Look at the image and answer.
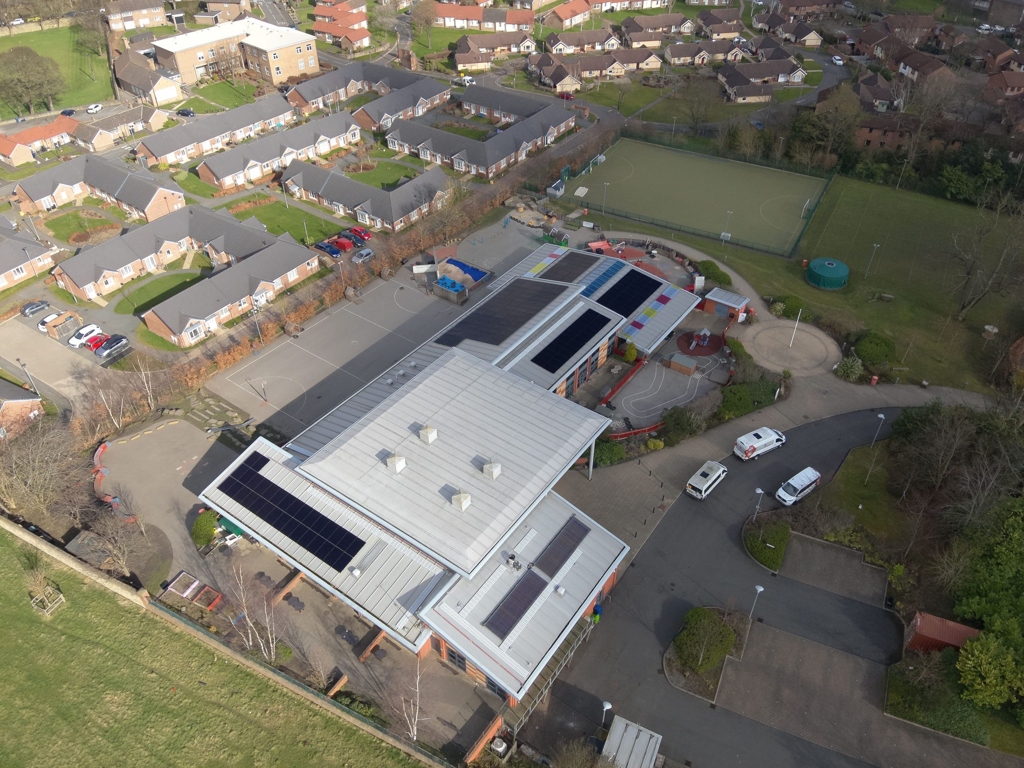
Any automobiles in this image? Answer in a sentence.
Yes, the photo shows an automobile.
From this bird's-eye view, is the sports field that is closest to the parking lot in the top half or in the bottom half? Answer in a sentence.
It is in the top half that the sports field that is closest to the parking lot appears.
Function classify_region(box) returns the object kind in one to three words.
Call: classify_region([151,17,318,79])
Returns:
building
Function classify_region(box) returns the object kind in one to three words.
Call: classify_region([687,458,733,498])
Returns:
vehicle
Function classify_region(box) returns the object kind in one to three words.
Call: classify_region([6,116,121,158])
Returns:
house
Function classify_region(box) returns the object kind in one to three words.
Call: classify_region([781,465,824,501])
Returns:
car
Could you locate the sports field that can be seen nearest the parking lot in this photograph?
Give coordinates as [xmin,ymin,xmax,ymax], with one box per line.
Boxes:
[547,111,1024,401]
